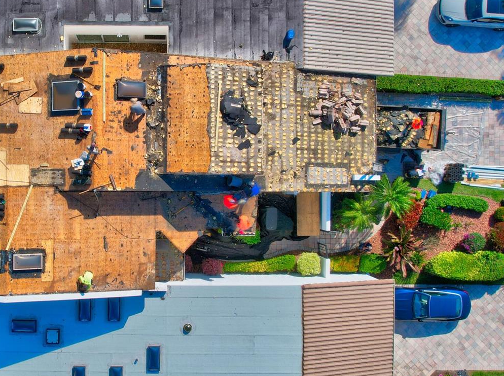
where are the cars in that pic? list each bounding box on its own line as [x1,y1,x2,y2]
[395,285,472,325]
[433,0,504,32]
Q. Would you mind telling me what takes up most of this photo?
buildings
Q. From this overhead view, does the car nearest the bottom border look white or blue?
blue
